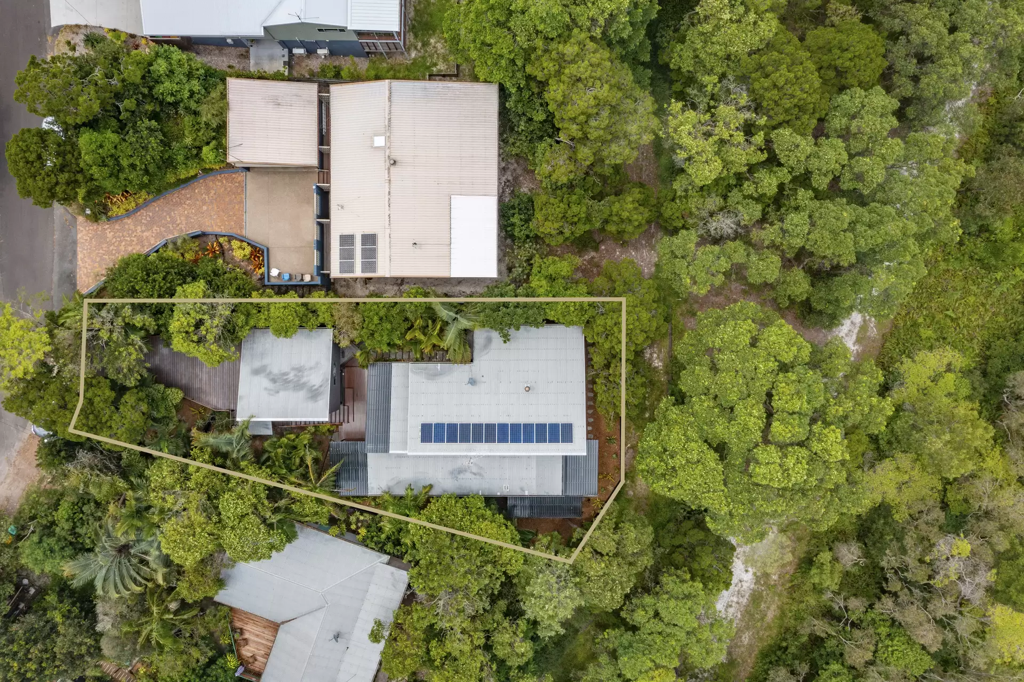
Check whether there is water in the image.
No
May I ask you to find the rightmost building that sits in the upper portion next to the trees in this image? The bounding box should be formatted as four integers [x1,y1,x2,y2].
[329,79,500,278]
